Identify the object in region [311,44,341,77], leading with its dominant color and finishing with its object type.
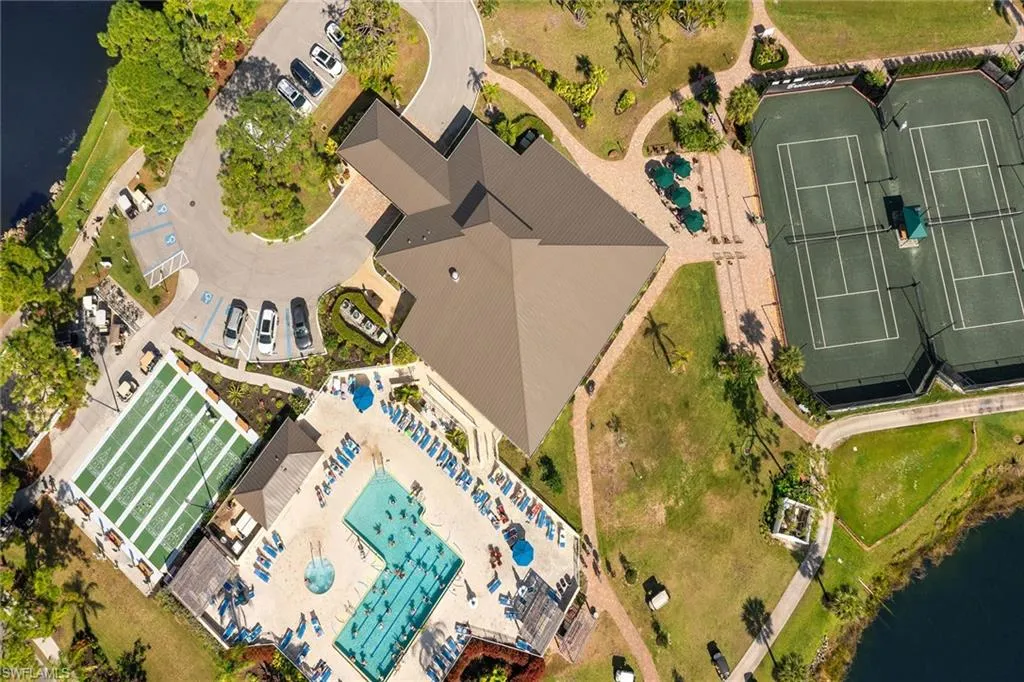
white car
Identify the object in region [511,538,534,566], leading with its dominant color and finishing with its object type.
blue umbrella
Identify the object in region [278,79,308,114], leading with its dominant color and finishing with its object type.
white car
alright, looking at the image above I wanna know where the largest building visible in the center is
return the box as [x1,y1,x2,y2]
[337,98,667,457]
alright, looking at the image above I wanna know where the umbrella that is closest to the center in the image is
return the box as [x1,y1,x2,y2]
[353,385,374,410]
